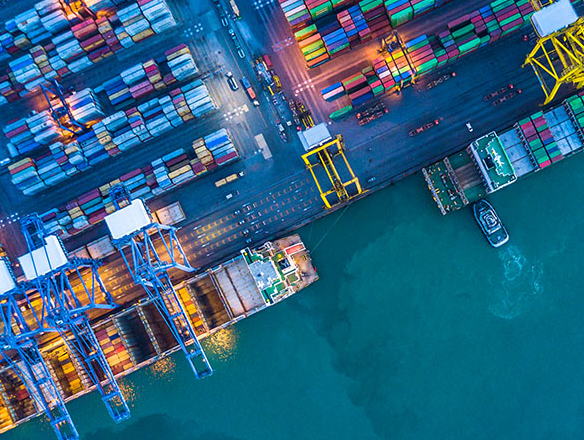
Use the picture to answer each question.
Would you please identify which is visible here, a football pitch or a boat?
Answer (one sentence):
Of the two, only a boat appears.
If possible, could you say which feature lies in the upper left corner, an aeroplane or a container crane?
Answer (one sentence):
Looking in the upper left corner, you will find a container crane.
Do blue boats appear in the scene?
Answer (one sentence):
Yes, I can see a blue boat in this picture.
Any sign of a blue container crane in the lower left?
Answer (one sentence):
Yes, looking in the lower left, one can make out a blue container crane.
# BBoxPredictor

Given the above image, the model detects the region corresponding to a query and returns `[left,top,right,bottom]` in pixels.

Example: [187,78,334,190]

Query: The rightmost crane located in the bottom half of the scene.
[104,183,213,384]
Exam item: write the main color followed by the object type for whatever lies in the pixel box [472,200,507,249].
blue boat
